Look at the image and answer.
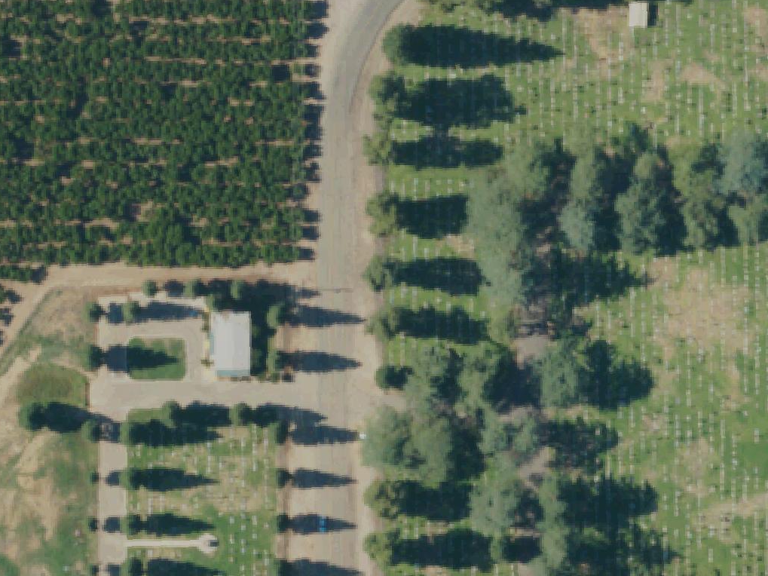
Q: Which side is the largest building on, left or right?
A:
left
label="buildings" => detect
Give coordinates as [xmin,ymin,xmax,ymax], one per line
[629,1,648,26]
[207,311,250,383]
